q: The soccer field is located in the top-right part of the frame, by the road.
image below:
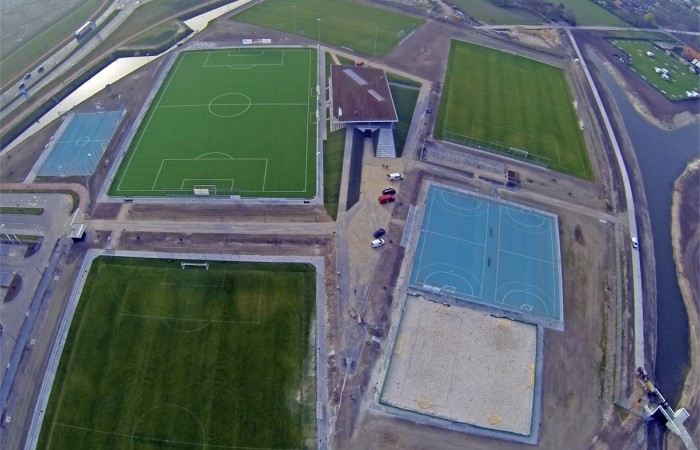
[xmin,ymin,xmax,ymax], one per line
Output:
[433,38,595,183]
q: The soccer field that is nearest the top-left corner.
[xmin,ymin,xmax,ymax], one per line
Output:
[94,47,324,203]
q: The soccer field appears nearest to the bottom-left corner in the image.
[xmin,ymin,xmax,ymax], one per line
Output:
[29,248,330,450]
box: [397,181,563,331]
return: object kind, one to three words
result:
sports court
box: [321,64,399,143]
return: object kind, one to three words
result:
building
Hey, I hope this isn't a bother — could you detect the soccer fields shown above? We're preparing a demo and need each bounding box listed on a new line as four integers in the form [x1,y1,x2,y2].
[94,47,324,203]
[433,38,595,183]
[29,248,330,450]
